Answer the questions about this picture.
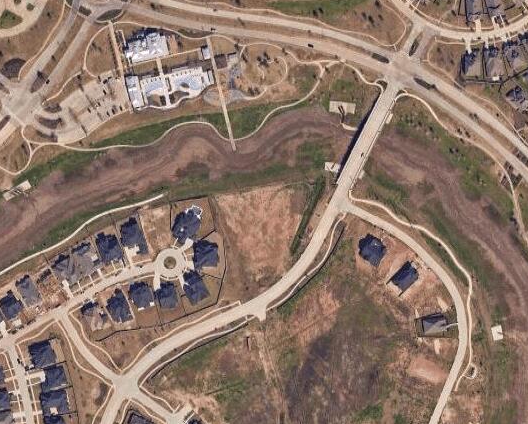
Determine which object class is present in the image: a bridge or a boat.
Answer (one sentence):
I can see a bridge in this picture.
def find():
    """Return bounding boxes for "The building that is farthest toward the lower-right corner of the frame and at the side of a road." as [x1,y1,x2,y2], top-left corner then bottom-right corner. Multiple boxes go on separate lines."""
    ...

[421,312,450,337]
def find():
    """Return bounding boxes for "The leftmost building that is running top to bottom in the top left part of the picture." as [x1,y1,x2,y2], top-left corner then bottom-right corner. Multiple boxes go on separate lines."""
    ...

[126,77,142,108]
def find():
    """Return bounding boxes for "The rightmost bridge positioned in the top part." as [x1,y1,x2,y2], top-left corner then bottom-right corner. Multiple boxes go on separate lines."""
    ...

[339,90,398,200]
